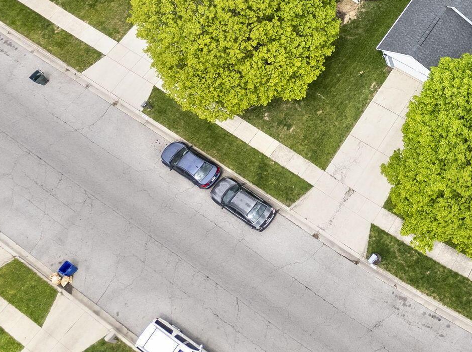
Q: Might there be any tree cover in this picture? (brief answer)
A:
Yes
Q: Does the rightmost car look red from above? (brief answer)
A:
No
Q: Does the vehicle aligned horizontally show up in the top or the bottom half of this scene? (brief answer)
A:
bottom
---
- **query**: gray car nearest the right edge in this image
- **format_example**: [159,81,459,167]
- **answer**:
[210,172,282,238]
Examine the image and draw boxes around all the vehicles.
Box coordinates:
[210,172,282,238]
[159,137,225,196]
[135,319,207,352]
